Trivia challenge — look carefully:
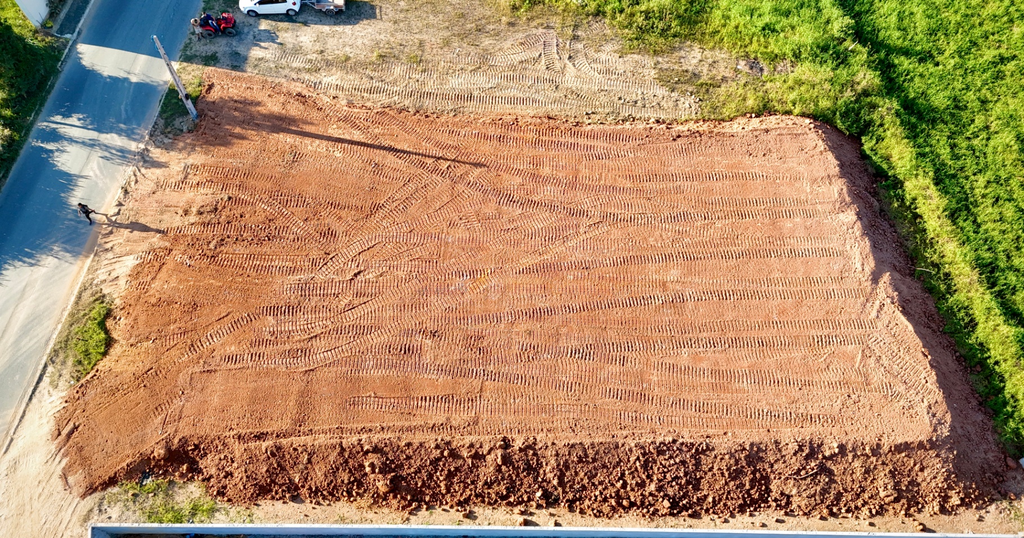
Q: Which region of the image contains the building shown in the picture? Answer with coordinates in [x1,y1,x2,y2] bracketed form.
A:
[10,0,53,31]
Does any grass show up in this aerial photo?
Yes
